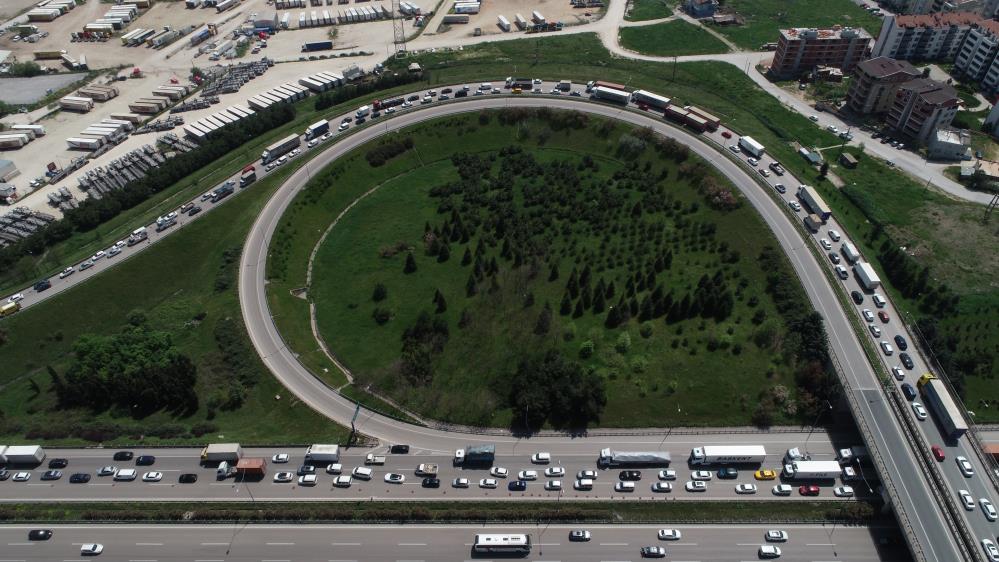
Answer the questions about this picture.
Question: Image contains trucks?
Yes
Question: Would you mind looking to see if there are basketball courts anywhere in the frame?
No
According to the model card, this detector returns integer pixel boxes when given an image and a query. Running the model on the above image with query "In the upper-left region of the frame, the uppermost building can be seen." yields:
[254,5,281,33]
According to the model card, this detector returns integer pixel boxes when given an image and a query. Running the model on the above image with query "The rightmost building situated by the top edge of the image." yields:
[956,25,999,96]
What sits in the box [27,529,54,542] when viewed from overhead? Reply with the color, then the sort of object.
black vehicle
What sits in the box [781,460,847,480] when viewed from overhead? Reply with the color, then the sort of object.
white vehicle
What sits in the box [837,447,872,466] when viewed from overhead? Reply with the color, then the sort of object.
black vehicle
